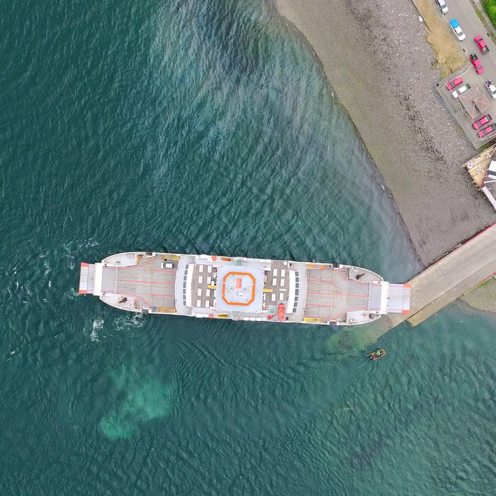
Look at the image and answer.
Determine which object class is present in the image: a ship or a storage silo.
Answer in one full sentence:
I can see a ship in this picture.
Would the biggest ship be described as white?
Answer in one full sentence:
Yes, the biggest ship appears white.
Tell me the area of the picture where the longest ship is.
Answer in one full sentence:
Look in the center portion of the view to spot the longest ship.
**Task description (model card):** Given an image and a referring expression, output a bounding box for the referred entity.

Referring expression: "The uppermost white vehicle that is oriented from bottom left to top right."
[451,82,471,98]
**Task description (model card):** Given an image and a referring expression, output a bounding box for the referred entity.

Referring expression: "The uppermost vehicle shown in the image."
[435,0,448,13]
